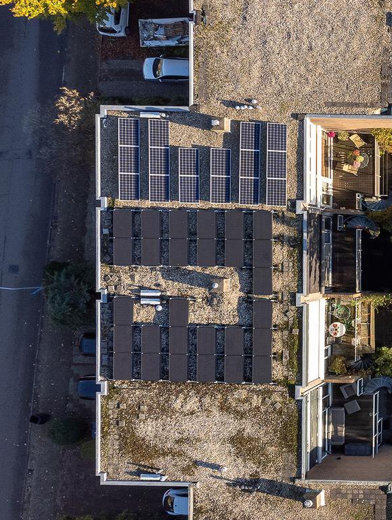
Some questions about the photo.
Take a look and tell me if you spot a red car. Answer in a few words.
No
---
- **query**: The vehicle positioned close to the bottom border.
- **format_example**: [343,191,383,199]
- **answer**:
[161,485,189,517]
